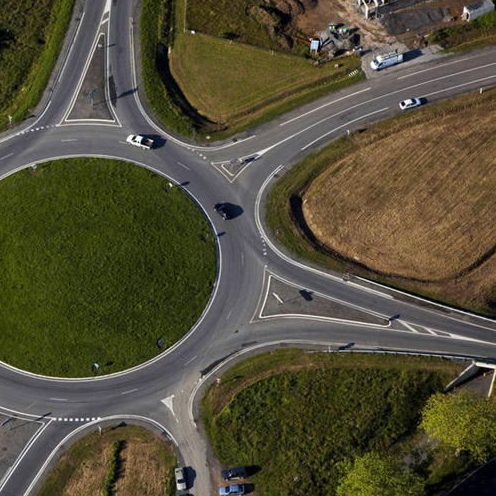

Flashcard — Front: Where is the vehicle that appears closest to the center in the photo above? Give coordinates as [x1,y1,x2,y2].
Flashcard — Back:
[214,203,233,222]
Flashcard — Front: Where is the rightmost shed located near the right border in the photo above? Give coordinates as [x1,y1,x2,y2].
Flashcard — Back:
[462,2,494,23]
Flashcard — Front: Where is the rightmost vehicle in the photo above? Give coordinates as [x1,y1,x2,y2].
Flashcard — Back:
[398,97,422,110]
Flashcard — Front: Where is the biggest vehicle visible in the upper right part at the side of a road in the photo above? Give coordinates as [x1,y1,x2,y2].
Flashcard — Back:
[372,50,405,71]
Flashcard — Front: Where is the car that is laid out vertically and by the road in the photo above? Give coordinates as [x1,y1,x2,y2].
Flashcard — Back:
[175,467,187,492]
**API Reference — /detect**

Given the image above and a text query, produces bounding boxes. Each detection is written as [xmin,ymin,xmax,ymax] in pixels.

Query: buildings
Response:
[345,0,430,22]
[462,2,494,23]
